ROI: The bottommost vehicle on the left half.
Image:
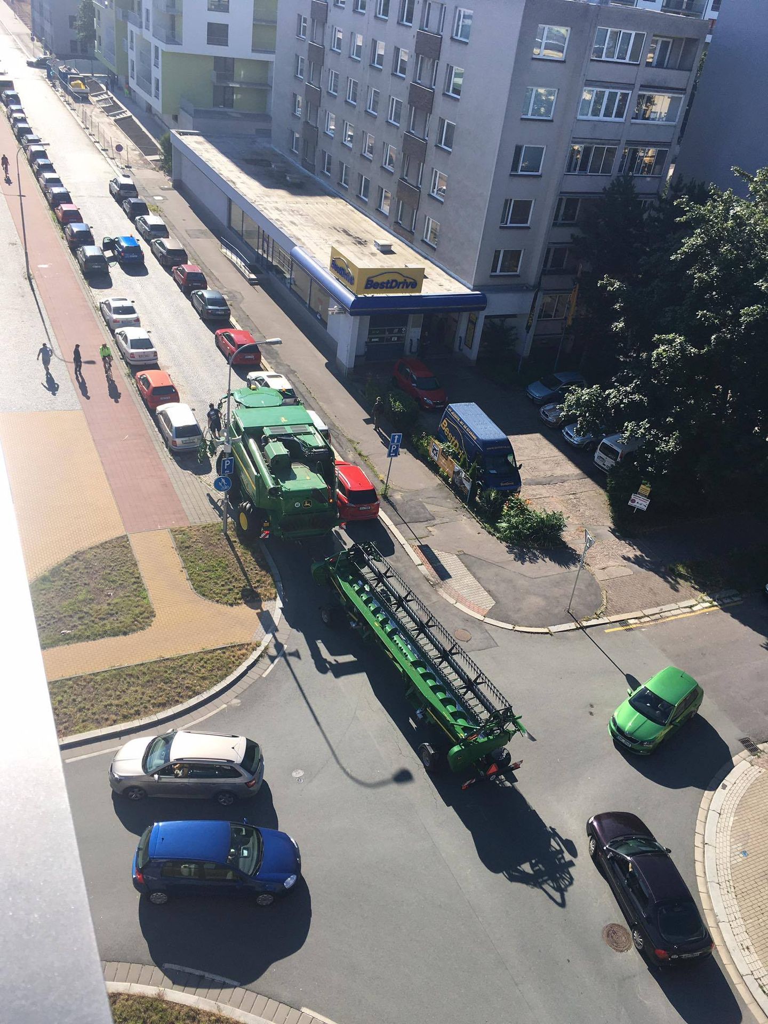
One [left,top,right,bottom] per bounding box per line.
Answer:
[127,812,300,902]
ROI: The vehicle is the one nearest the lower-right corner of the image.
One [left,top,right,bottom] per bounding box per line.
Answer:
[588,811,725,981]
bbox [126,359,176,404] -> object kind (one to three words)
car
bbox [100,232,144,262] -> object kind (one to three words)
car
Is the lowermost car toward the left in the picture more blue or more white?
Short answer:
blue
